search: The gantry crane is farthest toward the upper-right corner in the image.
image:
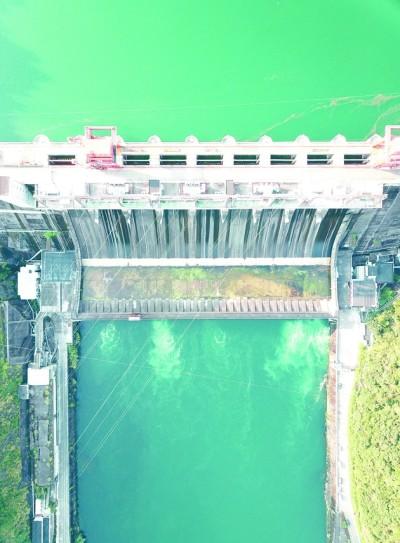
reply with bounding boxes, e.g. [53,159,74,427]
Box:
[368,125,400,171]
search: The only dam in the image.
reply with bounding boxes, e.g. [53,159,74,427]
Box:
[0,136,400,324]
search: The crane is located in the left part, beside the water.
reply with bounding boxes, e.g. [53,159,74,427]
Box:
[84,125,134,171]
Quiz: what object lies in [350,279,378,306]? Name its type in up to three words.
building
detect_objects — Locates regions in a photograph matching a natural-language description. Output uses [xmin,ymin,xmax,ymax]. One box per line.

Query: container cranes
[368,125,400,171]
[84,125,134,171]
